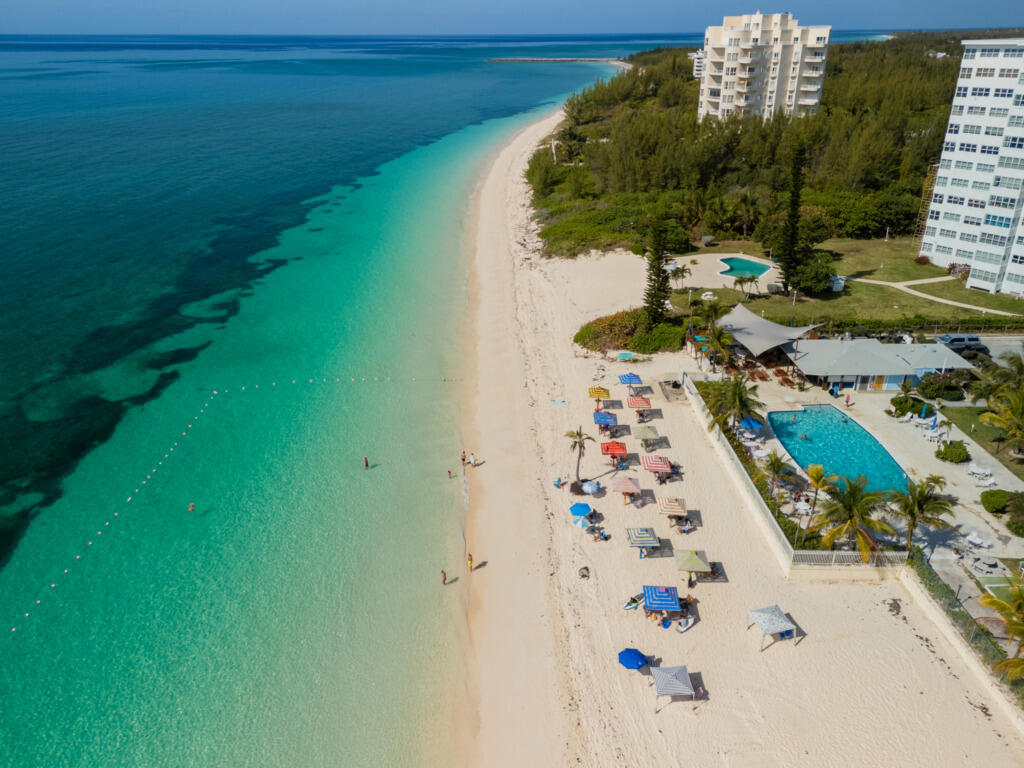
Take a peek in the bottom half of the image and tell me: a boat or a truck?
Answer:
boat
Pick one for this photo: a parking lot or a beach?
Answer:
beach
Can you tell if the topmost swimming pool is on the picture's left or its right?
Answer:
right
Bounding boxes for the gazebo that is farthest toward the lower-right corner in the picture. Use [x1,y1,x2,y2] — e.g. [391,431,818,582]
[745,603,802,653]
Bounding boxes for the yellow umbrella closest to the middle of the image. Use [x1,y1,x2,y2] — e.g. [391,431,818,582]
[587,386,609,410]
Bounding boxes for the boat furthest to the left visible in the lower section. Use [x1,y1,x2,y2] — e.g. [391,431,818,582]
[624,592,643,613]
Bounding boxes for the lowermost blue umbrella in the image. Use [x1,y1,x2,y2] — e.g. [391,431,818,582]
[618,646,649,687]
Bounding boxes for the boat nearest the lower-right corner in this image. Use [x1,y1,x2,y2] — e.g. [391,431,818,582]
[674,608,698,632]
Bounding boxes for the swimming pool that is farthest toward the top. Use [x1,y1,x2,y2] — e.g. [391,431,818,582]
[717,255,773,277]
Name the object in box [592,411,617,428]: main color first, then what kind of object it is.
blue umbrella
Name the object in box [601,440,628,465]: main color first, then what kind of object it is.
red umbrella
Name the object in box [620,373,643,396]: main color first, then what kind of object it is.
blue umbrella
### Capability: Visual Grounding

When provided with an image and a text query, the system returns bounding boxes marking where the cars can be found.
[935,330,983,348]
[951,339,995,355]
